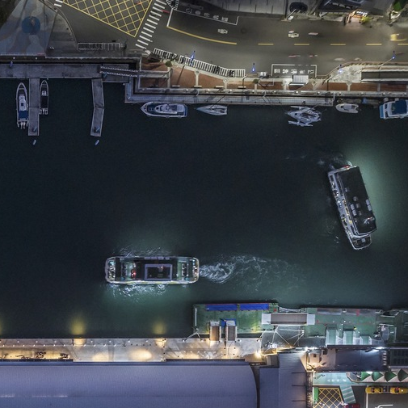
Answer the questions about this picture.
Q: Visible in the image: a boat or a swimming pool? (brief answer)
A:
boat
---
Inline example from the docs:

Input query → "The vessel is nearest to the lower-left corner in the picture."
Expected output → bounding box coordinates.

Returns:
[103,256,197,285]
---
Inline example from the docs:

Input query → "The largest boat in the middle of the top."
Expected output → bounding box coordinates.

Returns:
[141,101,187,118]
